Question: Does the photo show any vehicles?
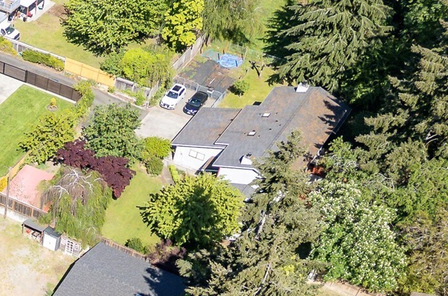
Yes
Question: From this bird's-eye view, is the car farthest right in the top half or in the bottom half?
top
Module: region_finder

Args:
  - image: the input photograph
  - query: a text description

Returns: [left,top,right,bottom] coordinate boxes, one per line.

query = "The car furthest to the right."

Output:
[181,85,215,117]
